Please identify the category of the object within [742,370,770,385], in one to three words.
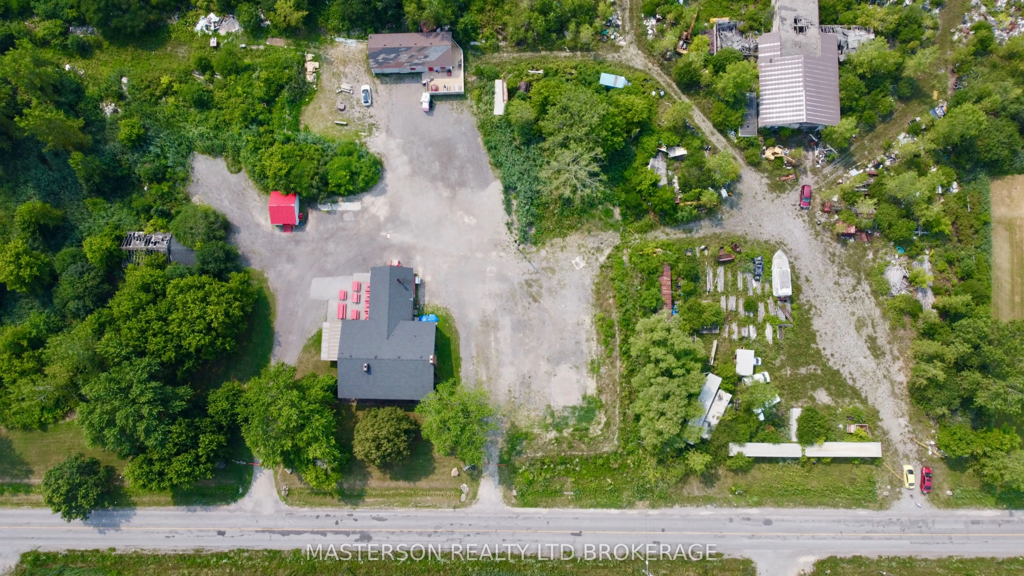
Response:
car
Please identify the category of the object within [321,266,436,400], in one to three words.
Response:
building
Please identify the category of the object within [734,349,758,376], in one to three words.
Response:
truck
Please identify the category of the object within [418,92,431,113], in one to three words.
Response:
vehicle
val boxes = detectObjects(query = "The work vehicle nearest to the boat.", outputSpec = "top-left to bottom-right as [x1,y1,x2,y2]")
[753,255,766,286]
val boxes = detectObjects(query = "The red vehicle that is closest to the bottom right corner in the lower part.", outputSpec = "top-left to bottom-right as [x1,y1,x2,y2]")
[918,467,931,493]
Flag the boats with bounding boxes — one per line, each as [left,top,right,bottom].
[772,250,792,300]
